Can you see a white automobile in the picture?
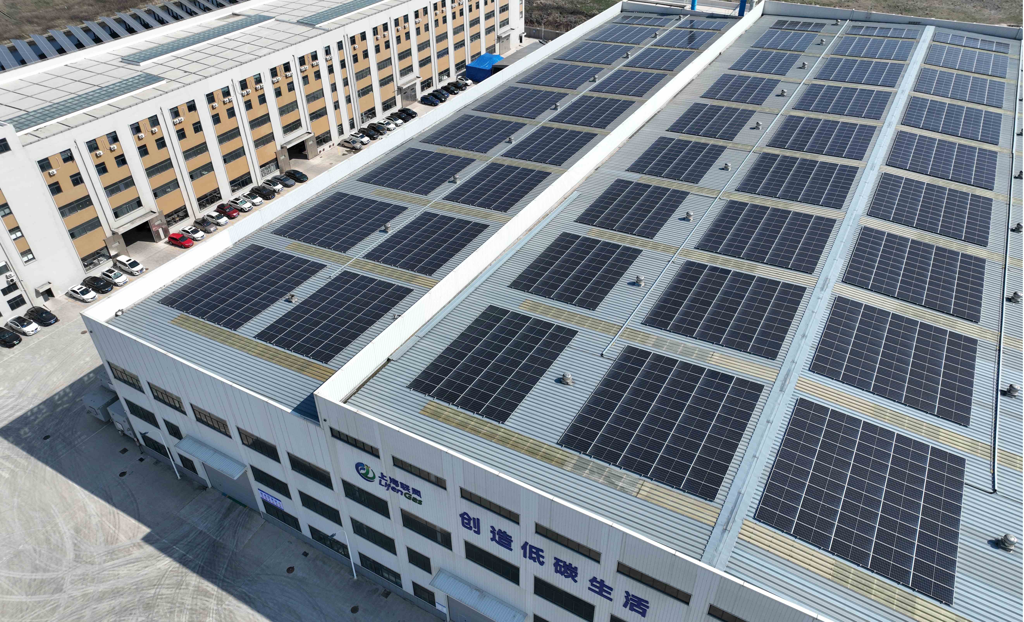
Yes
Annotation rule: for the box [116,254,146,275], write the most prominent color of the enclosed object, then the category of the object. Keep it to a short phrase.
white car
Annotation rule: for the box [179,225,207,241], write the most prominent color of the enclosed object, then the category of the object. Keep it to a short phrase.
white car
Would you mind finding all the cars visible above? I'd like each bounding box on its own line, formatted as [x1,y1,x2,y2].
[10,314,42,335]
[348,131,370,144]
[27,307,58,327]
[397,108,418,118]
[102,268,129,287]
[116,254,146,275]
[454,75,473,86]
[179,225,207,241]
[250,186,276,200]
[262,179,285,193]
[391,112,412,123]
[284,170,309,183]
[339,138,361,150]
[419,94,439,106]
[203,210,230,226]
[428,92,447,102]
[447,81,467,90]
[85,276,114,294]
[169,233,194,250]
[440,85,459,95]
[228,196,254,213]
[239,191,265,206]
[68,283,98,302]
[214,202,240,219]
[0,326,22,347]
[376,120,396,132]
[271,174,297,188]
[191,216,218,232]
